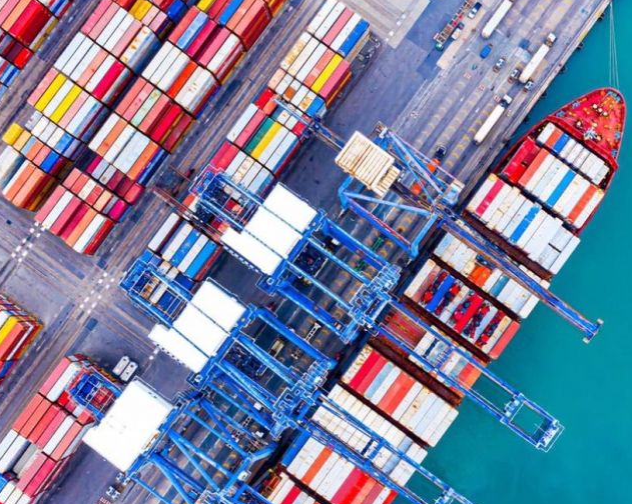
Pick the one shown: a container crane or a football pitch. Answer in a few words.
container crane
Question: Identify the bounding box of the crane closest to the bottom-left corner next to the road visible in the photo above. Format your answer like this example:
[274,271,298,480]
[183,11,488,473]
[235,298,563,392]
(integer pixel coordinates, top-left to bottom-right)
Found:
[59,358,287,504]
